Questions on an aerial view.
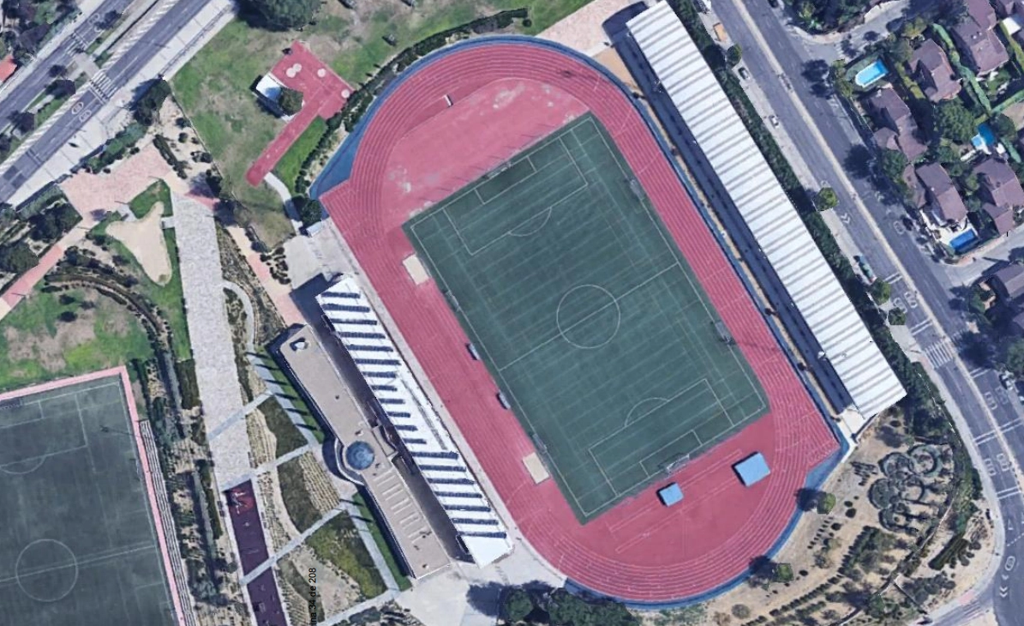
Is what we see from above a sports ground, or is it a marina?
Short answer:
sports ground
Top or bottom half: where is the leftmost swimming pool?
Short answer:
top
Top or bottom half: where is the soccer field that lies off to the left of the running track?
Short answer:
bottom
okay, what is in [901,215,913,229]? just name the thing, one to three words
vehicle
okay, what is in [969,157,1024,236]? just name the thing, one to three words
house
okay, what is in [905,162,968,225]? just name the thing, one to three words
house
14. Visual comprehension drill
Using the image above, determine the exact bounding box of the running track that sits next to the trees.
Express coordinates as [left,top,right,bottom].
[310,34,849,610]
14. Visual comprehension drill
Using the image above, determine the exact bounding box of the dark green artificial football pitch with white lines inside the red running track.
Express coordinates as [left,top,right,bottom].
[401,111,770,524]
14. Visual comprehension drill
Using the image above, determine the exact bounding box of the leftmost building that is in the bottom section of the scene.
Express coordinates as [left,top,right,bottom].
[280,325,450,577]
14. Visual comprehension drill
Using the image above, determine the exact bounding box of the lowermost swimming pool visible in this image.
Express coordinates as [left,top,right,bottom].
[950,229,978,250]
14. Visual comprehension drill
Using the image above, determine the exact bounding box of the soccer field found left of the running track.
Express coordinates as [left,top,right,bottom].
[0,366,183,626]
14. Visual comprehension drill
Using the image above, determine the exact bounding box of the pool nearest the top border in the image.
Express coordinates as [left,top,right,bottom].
[856,60,888,85]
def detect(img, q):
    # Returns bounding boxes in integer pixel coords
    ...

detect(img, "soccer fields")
[0,366,183,626]
[401,111,770,524]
